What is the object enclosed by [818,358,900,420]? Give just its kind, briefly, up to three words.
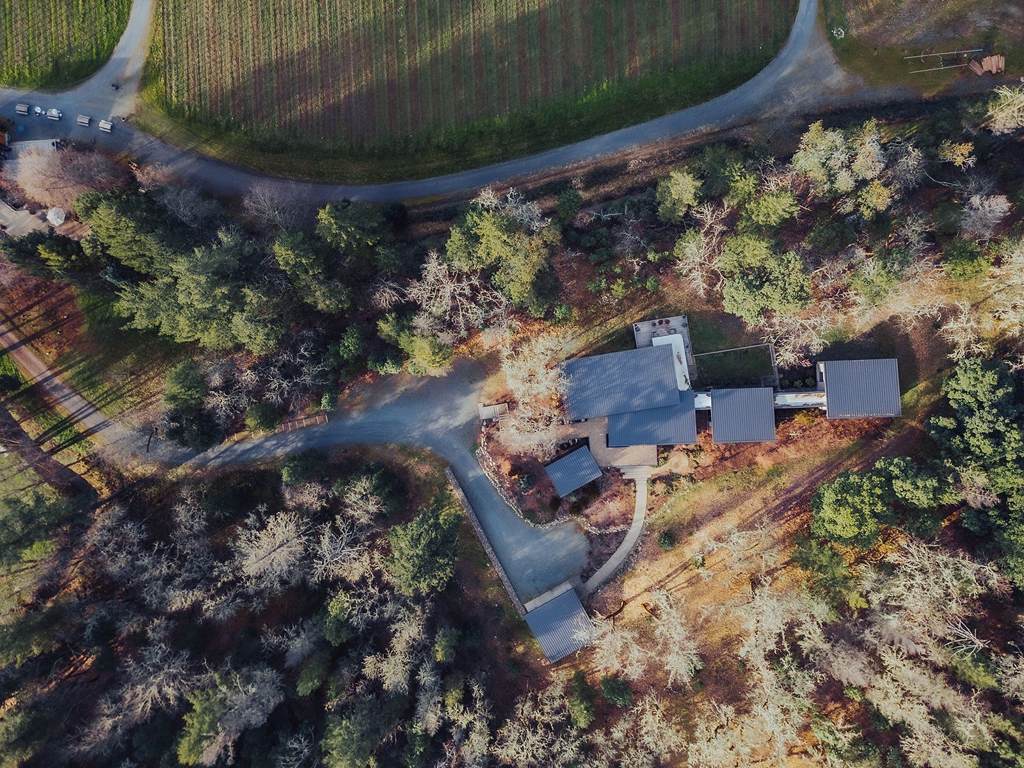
house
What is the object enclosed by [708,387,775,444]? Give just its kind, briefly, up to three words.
house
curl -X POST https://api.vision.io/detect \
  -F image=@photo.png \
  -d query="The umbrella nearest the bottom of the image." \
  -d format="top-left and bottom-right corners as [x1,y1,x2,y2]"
[47,206,68,225]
